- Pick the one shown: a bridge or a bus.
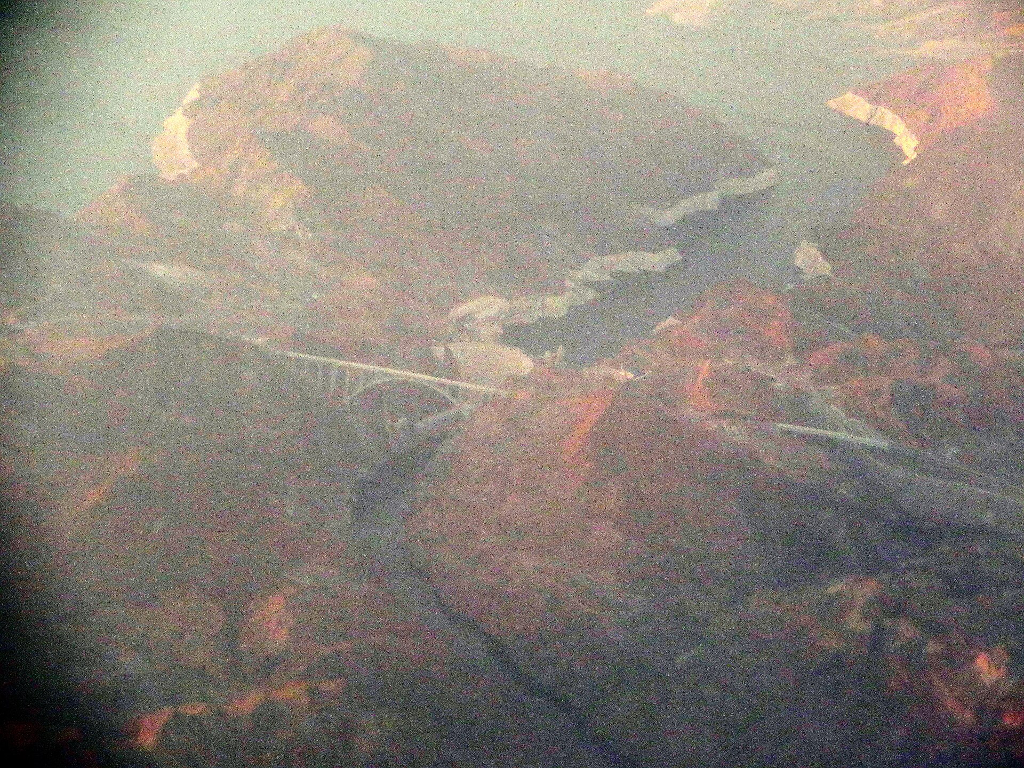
bridge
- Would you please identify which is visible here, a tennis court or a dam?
dam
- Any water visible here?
Yes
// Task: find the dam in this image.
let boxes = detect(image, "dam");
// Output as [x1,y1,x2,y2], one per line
[434,340,537,423]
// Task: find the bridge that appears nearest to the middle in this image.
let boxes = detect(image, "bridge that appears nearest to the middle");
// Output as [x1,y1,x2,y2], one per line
[247,337,519,429]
